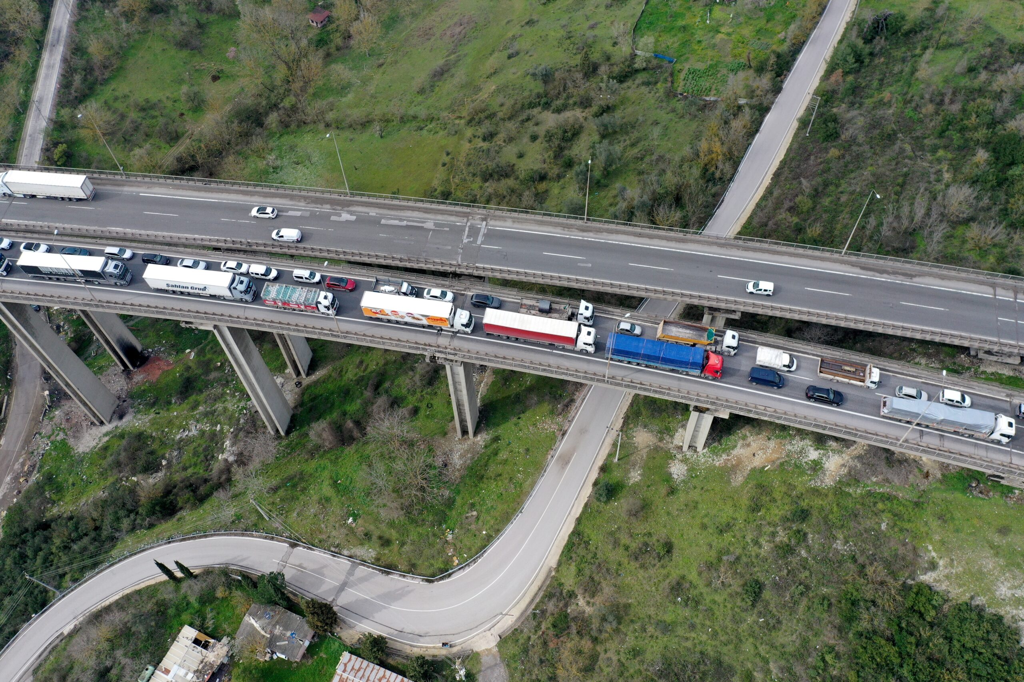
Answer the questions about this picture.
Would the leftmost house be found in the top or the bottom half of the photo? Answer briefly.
bottom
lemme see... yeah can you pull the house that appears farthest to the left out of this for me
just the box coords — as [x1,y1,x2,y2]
[144,626,219,682]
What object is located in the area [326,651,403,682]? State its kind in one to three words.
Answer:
shed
